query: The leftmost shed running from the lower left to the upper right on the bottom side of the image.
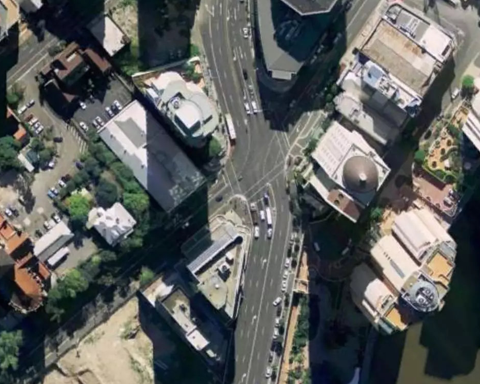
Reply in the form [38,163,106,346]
[34,221,75,262]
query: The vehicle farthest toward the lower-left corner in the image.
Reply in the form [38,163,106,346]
[48,249,69,265]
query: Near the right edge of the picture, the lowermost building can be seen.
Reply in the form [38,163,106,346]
[356,207,456,334]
